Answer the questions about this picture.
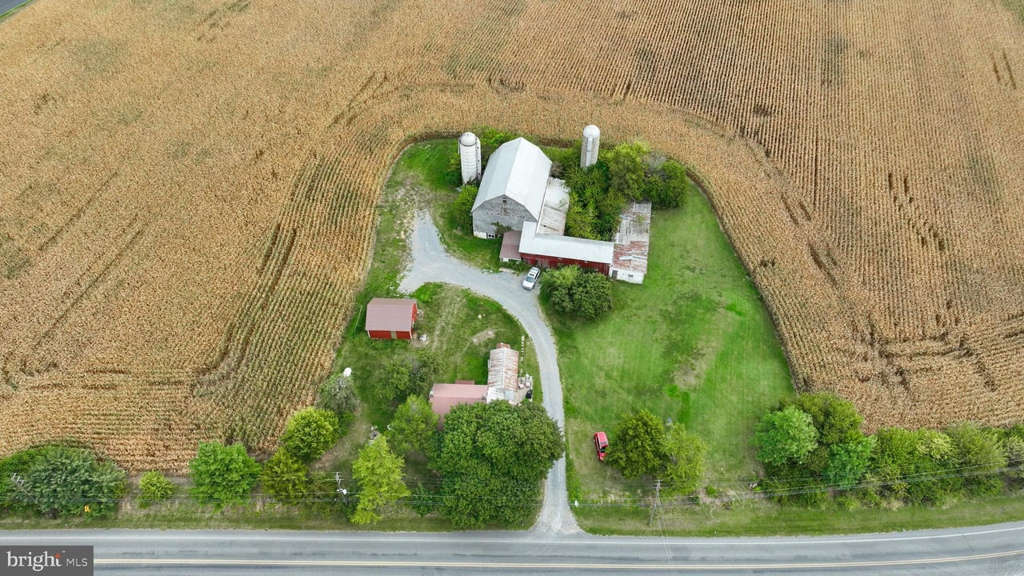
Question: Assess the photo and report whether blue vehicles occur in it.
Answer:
No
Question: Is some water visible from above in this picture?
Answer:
No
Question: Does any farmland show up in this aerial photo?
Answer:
Yes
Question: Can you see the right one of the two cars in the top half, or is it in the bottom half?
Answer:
bottom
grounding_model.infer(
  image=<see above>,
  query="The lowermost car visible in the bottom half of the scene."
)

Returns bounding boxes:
[593,433,613,464]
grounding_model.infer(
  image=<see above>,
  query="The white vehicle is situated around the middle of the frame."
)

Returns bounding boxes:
[520,267,541,291]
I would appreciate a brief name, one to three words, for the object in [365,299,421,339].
shed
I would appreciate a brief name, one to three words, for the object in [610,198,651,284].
shed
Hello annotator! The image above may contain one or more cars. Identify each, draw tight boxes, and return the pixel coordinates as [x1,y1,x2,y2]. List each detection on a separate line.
[593,433,613,464]
[520,267,541,291]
